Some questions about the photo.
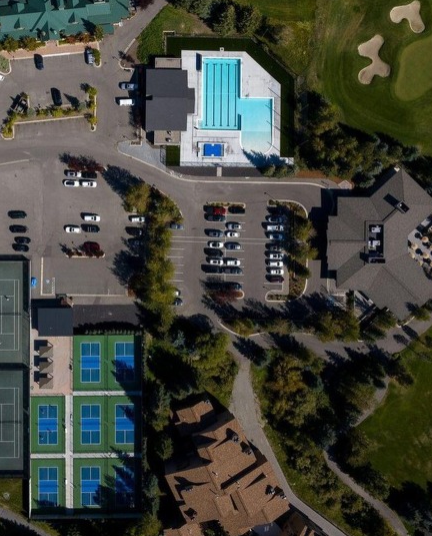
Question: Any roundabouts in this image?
No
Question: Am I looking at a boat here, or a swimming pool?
swimming pool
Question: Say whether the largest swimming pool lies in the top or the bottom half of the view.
top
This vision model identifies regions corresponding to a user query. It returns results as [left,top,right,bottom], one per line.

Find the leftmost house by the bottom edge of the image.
[160,397,291,536]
